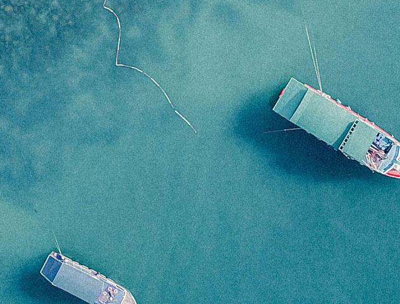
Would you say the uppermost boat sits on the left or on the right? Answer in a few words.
right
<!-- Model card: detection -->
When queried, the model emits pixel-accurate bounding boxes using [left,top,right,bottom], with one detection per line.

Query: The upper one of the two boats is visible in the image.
[272,78,400,176]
